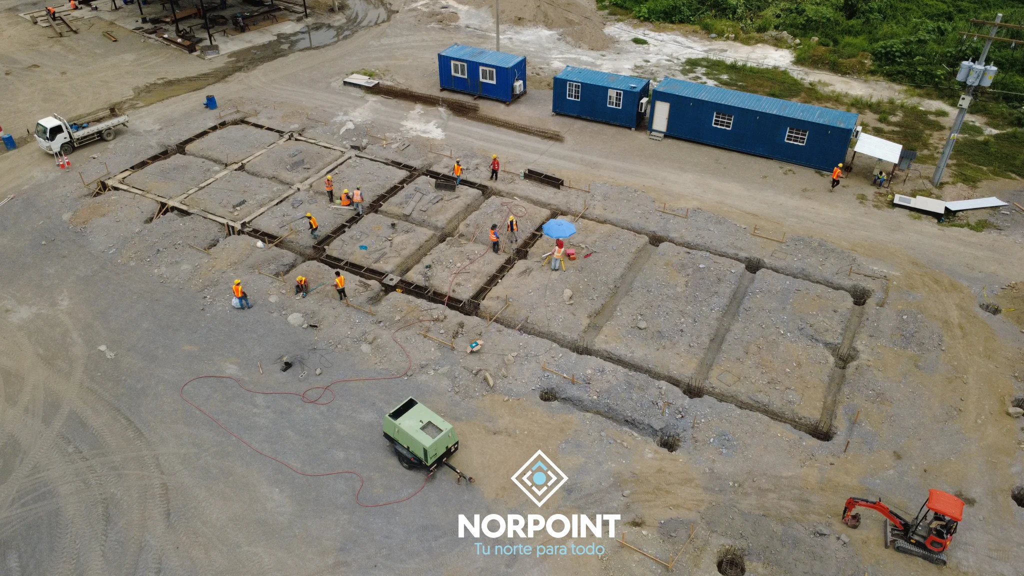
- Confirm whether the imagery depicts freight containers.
Yes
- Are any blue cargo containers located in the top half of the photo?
Yes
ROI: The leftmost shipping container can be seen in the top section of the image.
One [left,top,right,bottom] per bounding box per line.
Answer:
[438,45,526,102]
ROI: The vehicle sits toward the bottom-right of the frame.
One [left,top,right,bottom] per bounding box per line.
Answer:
[842,487,969,566]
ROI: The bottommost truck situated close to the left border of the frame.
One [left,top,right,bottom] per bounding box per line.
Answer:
[27,108,126,155]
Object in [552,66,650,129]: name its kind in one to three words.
shipping container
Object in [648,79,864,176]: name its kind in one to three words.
shipping container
